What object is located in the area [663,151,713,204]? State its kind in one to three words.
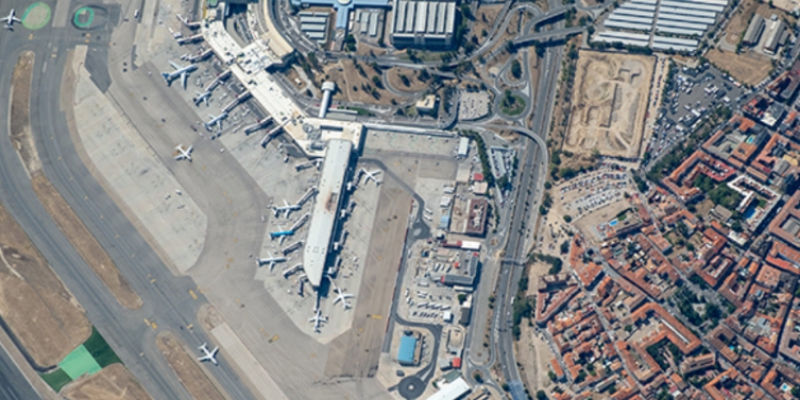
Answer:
building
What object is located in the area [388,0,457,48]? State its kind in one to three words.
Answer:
hangar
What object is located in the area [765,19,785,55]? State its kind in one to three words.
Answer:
shed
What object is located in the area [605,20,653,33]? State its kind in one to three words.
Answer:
building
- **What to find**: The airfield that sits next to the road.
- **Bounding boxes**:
[0,0,470,400]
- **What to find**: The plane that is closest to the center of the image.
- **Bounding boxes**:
[362,167,383,186]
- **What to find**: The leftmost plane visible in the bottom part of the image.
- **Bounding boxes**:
[198,343,219,364]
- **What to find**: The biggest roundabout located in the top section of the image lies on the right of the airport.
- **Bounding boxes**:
[495,90,530,120]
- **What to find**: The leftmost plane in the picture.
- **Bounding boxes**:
[0,9,22,30]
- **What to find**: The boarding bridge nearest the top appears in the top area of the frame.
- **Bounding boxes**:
[176,13,203,27]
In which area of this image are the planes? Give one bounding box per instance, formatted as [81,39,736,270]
[334,288,356,310]
[362,167,383,186]
[176,145,191,161]
[272,198,301,217]
[307,309,328,331]
[270,224,295,244]
[205,113,227,129]
[194,91,212,105]
[256,250,289,271]
[162,62,198,84]
[0,9,22,30]
[198,343,219,364]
